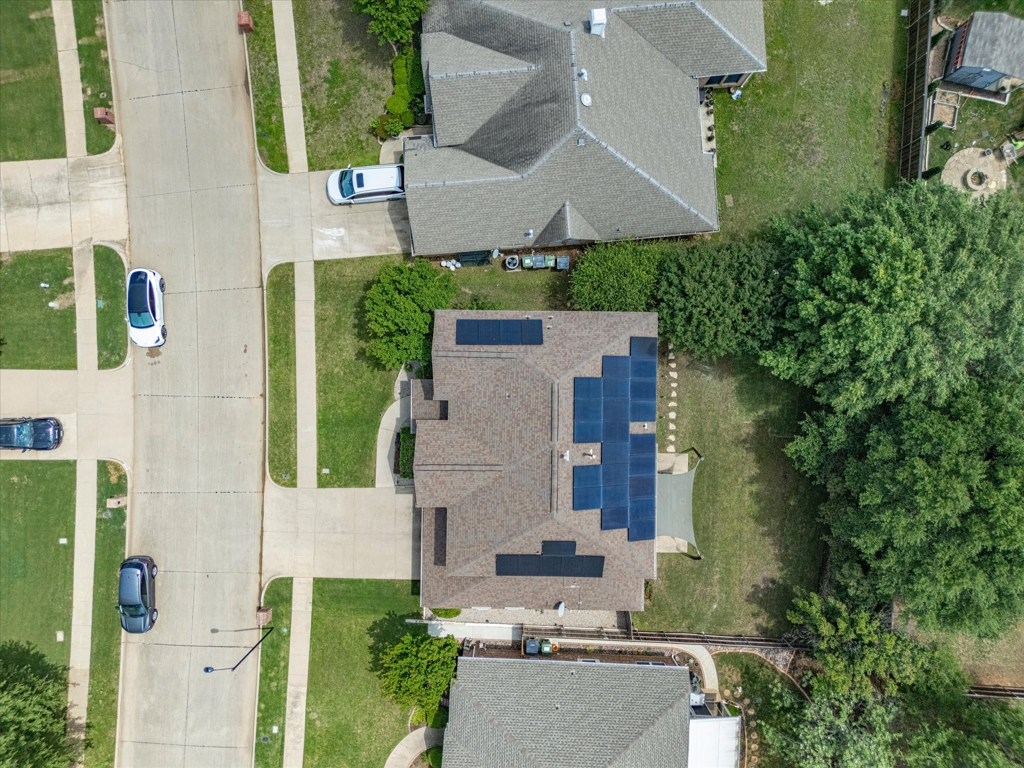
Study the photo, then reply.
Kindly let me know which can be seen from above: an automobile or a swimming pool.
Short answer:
automobile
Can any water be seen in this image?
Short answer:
No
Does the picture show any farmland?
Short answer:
No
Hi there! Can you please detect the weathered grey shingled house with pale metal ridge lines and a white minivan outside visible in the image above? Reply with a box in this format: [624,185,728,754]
[401,0,768,256]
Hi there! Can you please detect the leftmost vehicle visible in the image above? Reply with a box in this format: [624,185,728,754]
[0,414,61,456]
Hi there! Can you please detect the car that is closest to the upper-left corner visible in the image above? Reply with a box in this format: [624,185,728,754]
[122,267,167,347]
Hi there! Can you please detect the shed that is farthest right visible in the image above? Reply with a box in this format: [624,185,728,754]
[945,11,1024,93]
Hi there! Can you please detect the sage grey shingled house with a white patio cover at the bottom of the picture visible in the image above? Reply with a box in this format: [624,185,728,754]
[441,646,692,768]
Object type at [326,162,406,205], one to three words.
car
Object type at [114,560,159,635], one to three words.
car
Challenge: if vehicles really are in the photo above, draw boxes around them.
[114,560,159,635]
[122,267,167,347]
[326,162,406,205]
[0,414,61,456]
